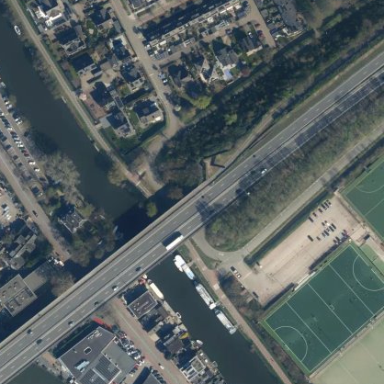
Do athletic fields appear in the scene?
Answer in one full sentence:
Yes, an athletic field is visible in the scene.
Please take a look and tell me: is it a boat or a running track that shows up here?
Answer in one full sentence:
I can see a boat in this picture.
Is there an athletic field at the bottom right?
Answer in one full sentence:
Yes, an athletic field is visible at the bottom right.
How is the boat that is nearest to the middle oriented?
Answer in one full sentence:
The boat that is nearest to the middle is laid out diagonally.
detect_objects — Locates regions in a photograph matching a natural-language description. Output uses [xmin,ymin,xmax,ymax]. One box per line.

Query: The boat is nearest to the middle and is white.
[172,254,195,282]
